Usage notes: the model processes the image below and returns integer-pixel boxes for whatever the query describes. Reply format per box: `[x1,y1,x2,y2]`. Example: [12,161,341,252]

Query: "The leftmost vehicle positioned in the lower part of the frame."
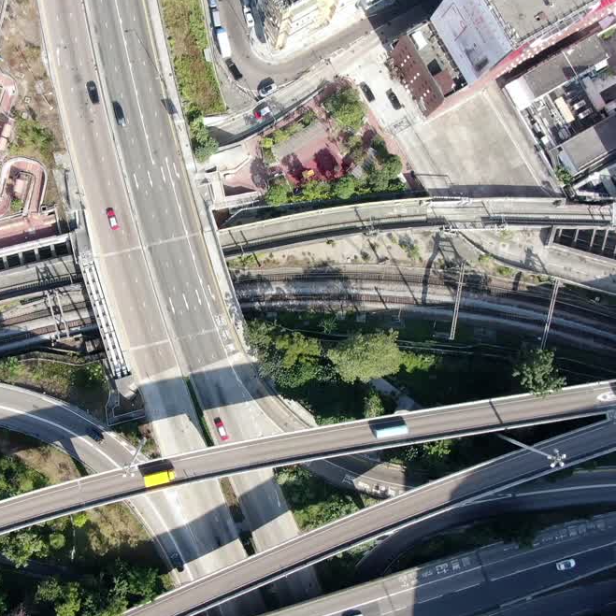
[84,425,106,444]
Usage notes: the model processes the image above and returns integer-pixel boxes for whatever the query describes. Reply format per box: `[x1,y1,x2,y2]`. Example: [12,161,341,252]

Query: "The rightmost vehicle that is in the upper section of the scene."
[386,86,403,110]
